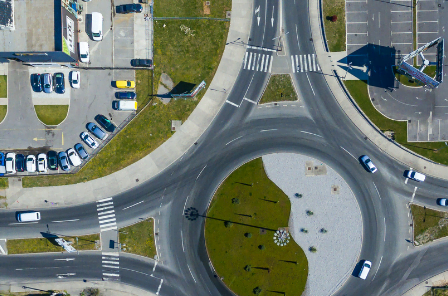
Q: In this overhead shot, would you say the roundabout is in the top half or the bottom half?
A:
bottom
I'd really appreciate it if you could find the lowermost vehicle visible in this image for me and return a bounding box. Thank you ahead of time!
[358,259,372,280]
